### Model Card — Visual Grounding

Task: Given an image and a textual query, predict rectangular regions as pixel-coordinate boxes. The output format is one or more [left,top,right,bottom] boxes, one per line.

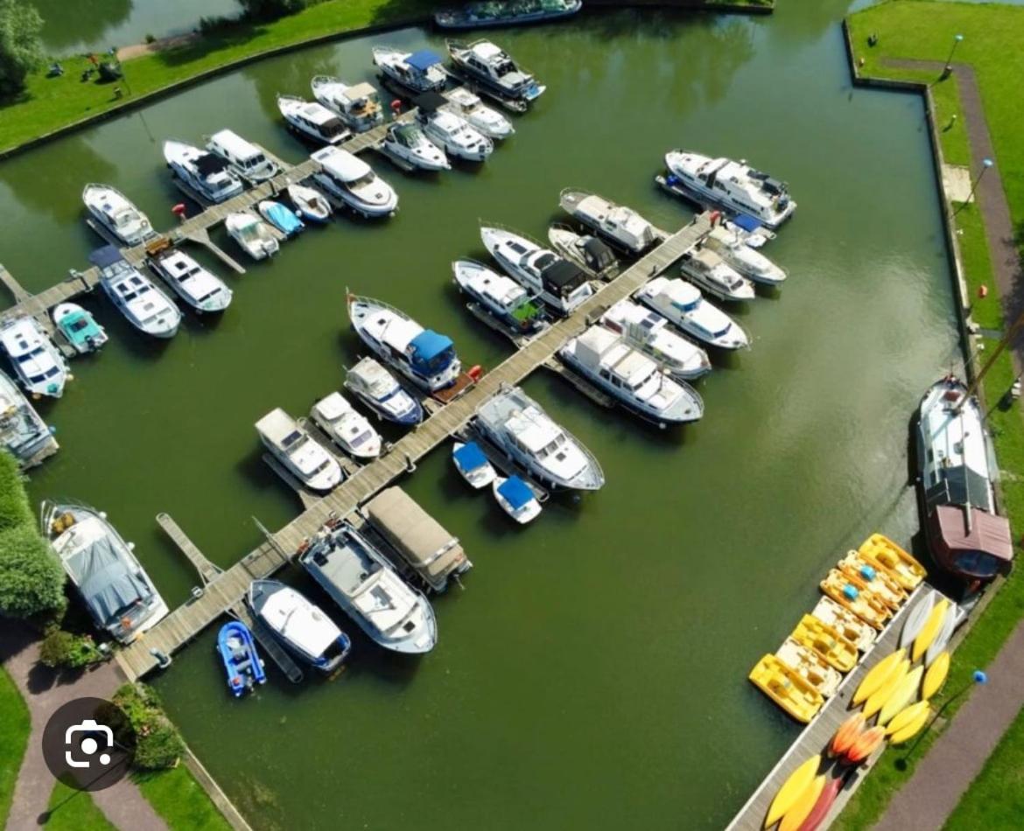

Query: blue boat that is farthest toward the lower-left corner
[204,600,269,696]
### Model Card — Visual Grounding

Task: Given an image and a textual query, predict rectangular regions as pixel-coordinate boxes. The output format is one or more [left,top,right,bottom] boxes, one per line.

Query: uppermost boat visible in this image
[437,0,584,28]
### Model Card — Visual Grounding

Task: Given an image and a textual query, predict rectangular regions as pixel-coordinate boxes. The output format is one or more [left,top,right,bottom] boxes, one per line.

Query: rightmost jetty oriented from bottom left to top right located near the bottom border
[722,582,967,831]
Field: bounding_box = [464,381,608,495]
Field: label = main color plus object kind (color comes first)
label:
white boat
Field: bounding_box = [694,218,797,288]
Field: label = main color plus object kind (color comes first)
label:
white boat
